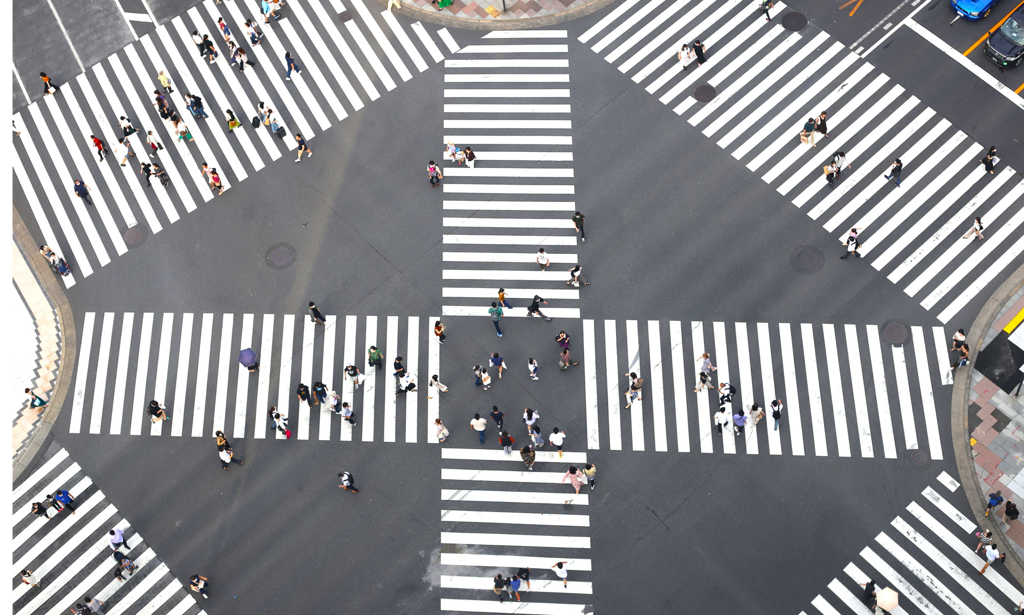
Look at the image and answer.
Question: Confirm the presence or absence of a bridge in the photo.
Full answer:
No, there's no bridge here.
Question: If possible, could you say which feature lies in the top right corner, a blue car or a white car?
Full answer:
Visible in the top right corner is a blue car.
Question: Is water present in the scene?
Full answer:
No, there is no water in the image.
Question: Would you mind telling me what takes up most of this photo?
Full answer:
What you mostly see from above here is paved ground.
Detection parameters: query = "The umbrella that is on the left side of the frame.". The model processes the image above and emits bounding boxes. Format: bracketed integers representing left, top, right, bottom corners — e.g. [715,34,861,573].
[237,351,256,370]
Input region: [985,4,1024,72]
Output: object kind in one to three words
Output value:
car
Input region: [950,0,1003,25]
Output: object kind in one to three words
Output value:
car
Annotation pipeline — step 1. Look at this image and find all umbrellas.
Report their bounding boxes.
[237,351,256,370]
[873,588,899,612]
